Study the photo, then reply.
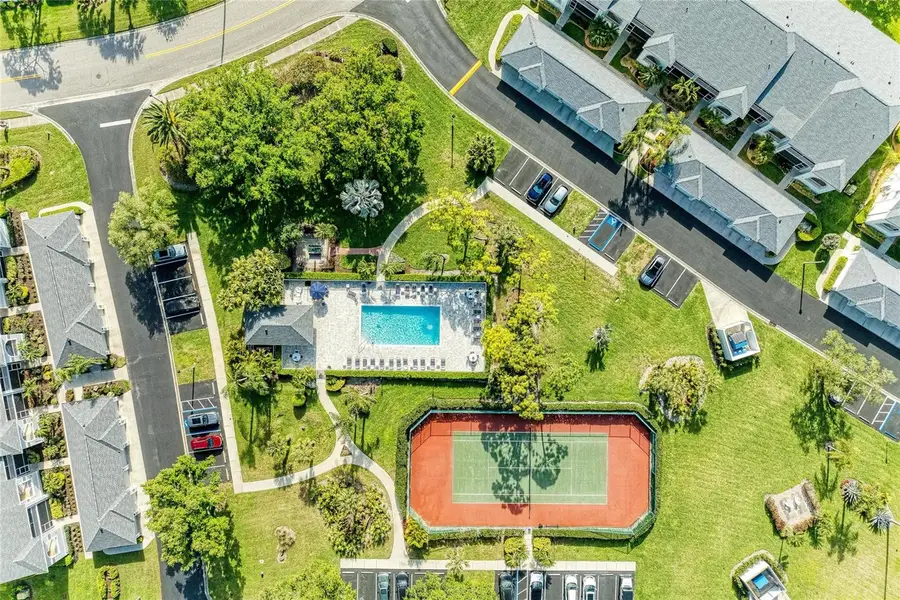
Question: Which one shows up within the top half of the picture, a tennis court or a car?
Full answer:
It is a car that can be seen within the top half of the picture.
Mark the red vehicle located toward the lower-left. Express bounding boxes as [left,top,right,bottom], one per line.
[191,434,223,451]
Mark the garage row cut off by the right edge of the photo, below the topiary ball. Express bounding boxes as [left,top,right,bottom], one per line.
[829,250,900,347]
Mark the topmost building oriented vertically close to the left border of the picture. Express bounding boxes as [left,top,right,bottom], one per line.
[24,212,118,367]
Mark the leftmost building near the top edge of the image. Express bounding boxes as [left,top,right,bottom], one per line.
[501,16,646,147]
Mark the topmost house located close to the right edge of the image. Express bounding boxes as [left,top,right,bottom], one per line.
[572,0,900,190]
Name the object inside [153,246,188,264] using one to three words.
car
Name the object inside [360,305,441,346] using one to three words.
swimming pool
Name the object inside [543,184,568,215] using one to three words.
car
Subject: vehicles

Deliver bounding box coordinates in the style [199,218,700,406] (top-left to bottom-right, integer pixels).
[153,246,188,264]
[620,576,635,600]
[186,411,220,427]
[543,184,568,215]
[583,575,598,600]
[499,573,514,600]
[167,300,200,316]
[527,171,553,202]
[640,256,665,287]
[564,574,579,600]
[375,571,390,600]
[530,571,545,600]
[395,570,410,600]
[191,434,223,451]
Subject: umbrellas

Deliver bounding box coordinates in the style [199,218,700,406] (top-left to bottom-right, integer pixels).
[310,282,328,300]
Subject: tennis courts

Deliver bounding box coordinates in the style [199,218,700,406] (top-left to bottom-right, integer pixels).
[412,411,650,527]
